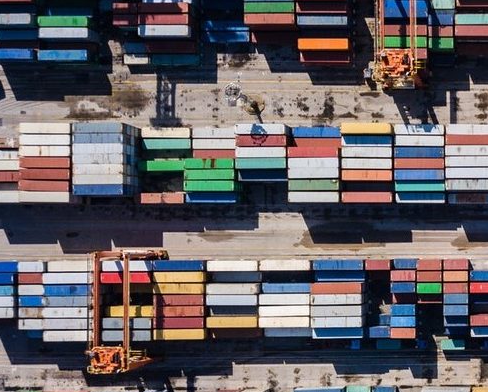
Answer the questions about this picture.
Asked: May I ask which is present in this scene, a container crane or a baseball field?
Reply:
container crane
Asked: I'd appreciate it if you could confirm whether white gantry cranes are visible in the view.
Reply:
No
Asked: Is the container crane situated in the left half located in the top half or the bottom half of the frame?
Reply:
bottom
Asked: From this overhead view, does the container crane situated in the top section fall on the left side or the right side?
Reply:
right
